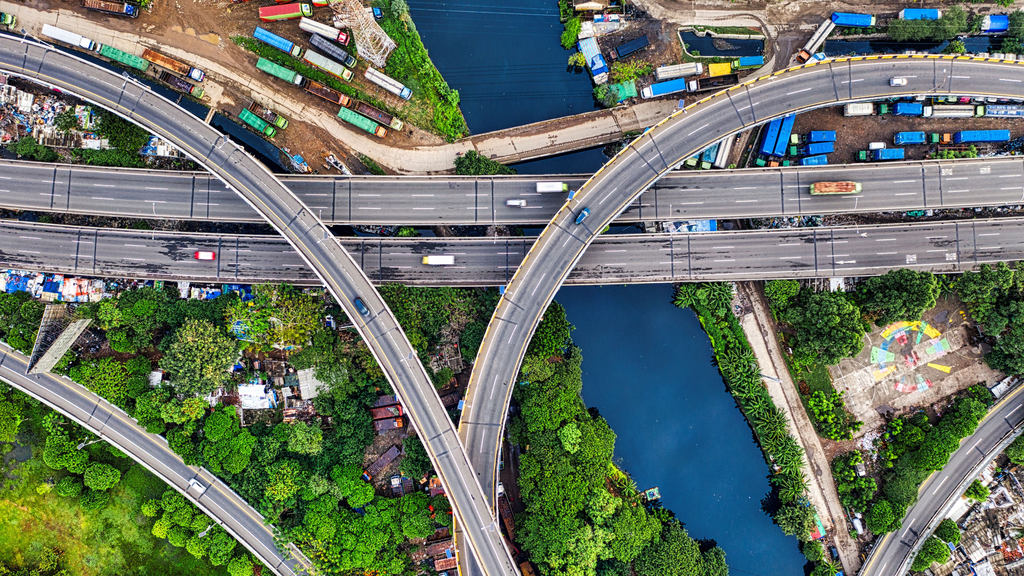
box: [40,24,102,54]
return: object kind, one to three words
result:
truck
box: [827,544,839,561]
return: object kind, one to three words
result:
vehicle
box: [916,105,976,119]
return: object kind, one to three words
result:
vehicle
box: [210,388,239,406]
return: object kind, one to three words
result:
shed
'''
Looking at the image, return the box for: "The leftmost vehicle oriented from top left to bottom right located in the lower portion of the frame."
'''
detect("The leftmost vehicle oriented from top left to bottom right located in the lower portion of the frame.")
[188,477,207,494]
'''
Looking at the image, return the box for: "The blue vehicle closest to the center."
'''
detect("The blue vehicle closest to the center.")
[575,206,591,226]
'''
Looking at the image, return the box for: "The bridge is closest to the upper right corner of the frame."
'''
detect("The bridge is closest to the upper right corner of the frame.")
[472,101,658,161]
